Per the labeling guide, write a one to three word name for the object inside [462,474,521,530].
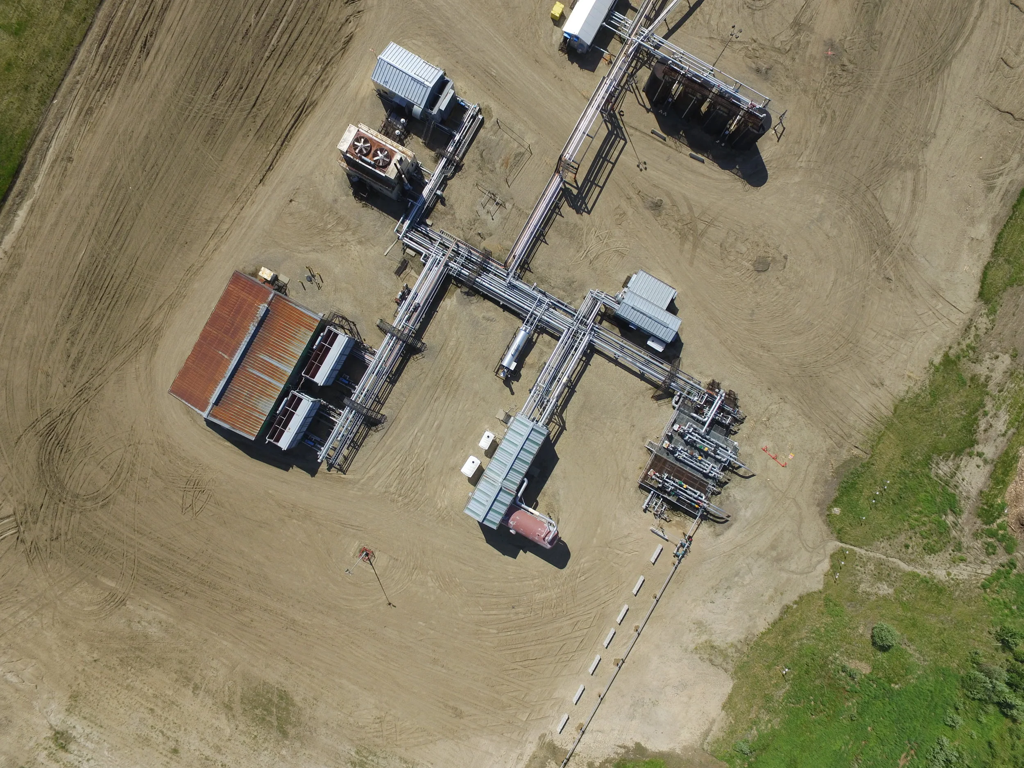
building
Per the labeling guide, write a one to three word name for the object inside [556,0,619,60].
building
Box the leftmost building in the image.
[167,270,334,440]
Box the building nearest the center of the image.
[484,406,551,493]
